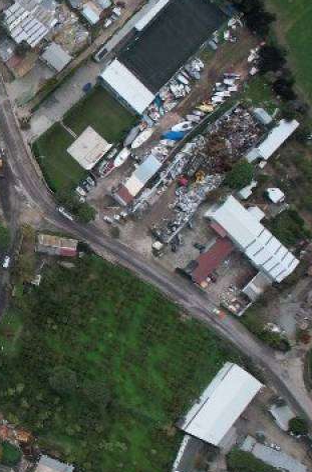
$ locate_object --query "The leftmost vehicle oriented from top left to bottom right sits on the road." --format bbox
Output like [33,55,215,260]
[55,204,76,223]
